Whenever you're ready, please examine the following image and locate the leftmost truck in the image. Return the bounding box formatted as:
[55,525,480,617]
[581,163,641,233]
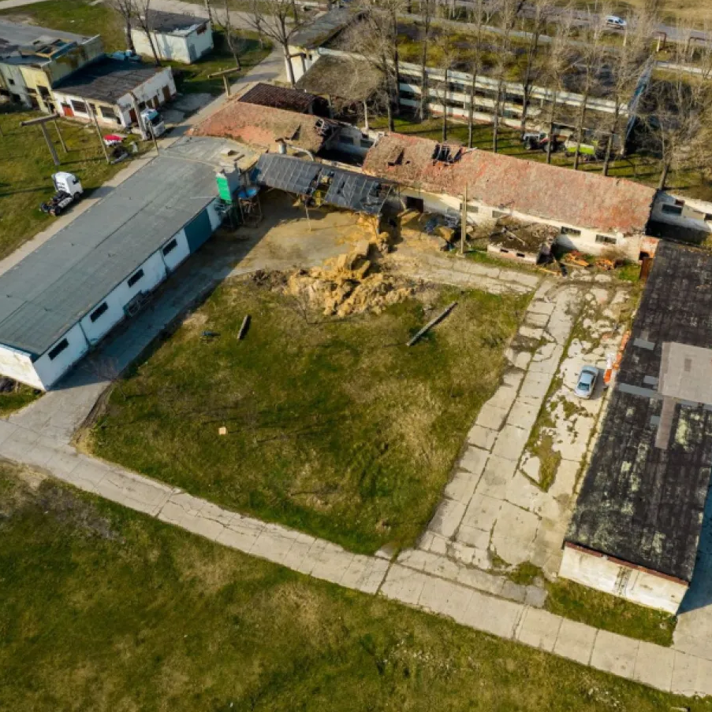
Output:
[40,176,86,214]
